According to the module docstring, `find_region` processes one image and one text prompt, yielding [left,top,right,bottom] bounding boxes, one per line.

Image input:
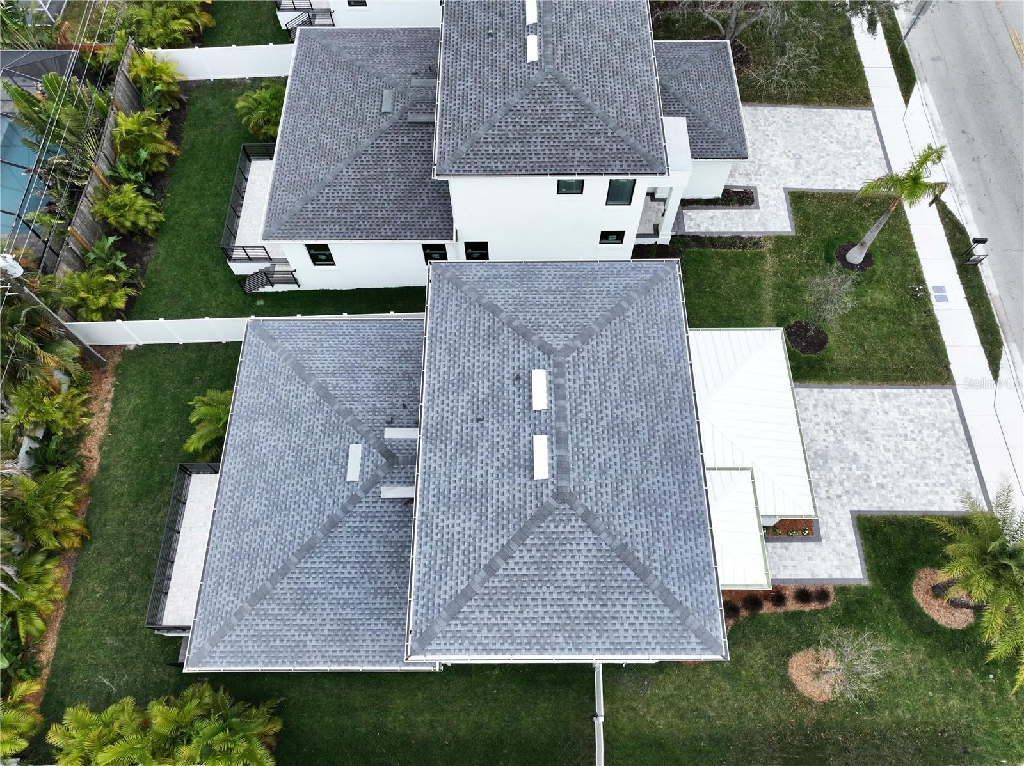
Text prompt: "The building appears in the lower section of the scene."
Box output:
[146,259,819,673]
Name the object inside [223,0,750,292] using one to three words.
house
